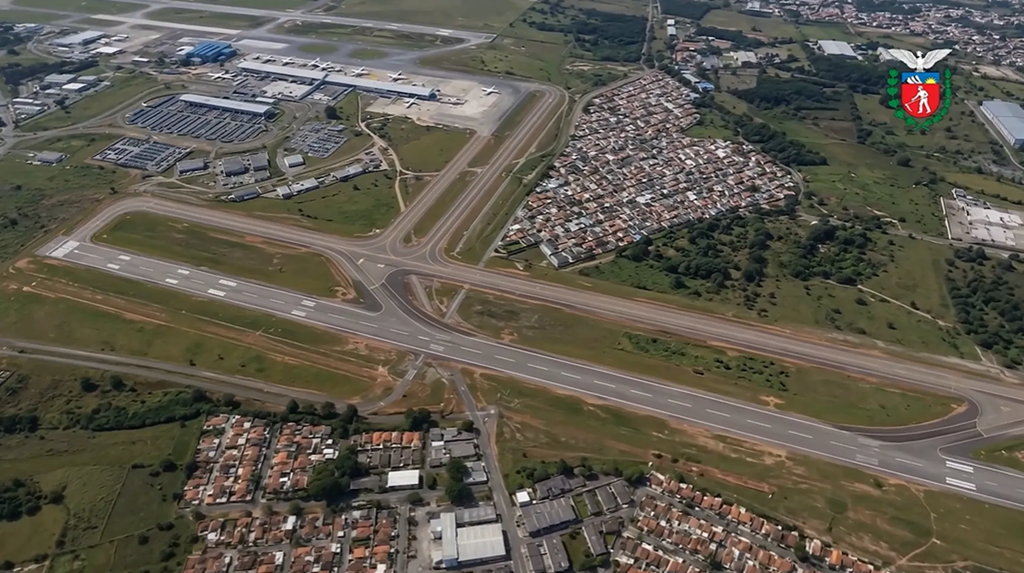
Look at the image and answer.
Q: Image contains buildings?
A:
Yes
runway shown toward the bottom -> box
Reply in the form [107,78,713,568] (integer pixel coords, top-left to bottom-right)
[45,238,1024,511]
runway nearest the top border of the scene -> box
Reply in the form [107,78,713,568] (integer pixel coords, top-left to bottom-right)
[124,0,495,40]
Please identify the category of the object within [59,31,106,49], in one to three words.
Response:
building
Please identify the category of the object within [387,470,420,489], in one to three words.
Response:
building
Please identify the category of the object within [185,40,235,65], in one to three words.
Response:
hangar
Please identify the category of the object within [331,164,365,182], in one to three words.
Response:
shed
